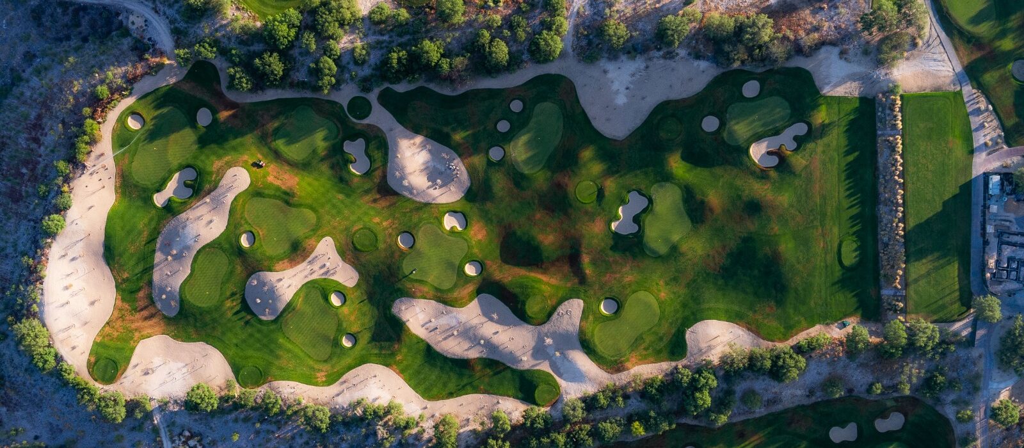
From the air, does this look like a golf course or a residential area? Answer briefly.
golf course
